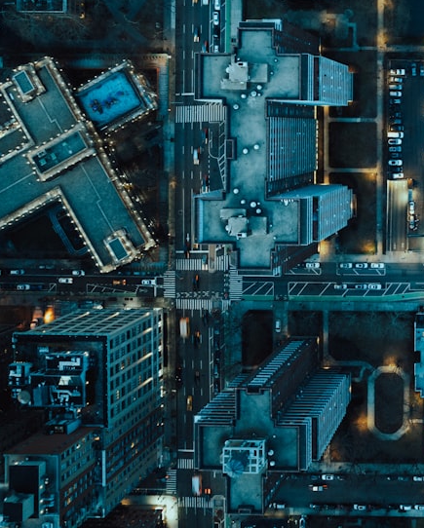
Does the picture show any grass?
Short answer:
Yes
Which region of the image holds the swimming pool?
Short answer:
top left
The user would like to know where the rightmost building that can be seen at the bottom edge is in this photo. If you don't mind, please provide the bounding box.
[196,338,351,514]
